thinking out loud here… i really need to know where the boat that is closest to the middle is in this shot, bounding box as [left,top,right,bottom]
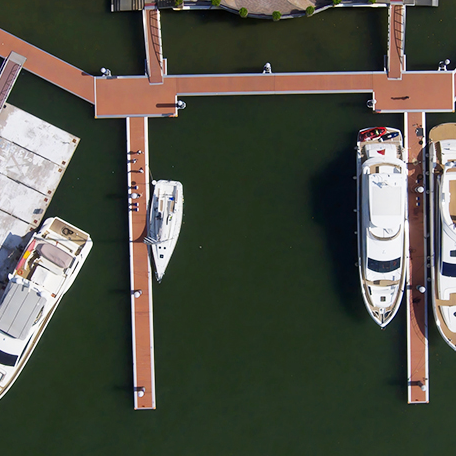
[144,180,183,283]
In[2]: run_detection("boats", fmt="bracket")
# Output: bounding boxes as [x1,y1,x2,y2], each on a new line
[379,131,399,143]
[144,180,183,283]
[428,123,456,351]
[360,126,388,143]
[0,218,92,395]
[356,126,408,331]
